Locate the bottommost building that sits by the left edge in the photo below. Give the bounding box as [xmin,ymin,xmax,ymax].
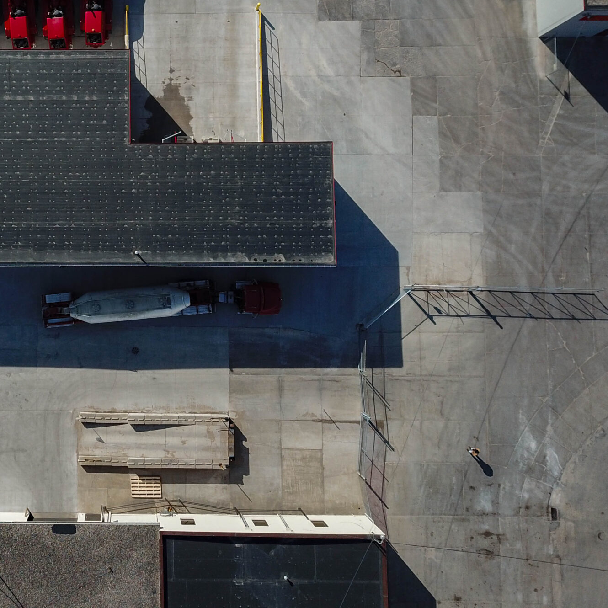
[0,498,162,608]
